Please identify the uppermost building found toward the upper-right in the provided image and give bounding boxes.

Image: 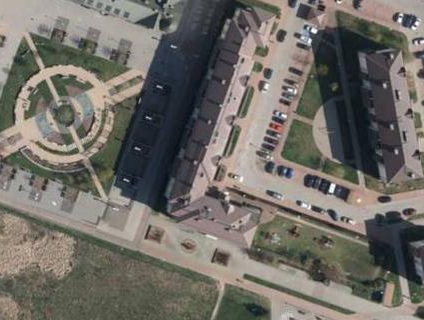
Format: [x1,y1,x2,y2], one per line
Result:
[297,2,326,26]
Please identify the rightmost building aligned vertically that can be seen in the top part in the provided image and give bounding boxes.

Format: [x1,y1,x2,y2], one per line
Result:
[356,50,423,182]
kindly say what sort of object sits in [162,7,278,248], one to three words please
house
